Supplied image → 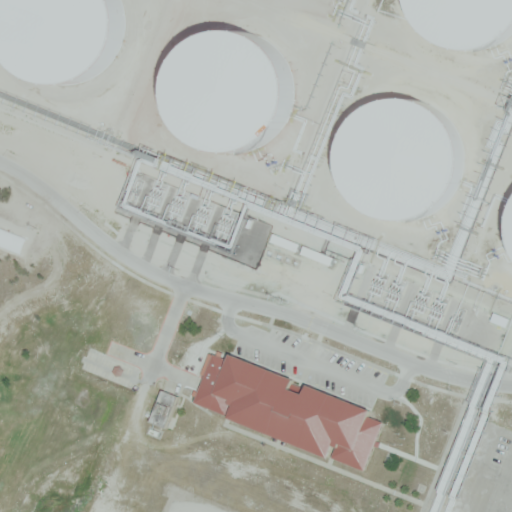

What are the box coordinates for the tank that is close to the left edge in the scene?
[0,0,128,86]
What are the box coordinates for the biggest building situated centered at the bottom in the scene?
[192,352,383,470]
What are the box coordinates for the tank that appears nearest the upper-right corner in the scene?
[400,0,512,52]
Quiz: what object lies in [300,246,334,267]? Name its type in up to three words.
building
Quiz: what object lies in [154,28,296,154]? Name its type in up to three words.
storage tank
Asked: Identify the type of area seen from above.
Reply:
industrial area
